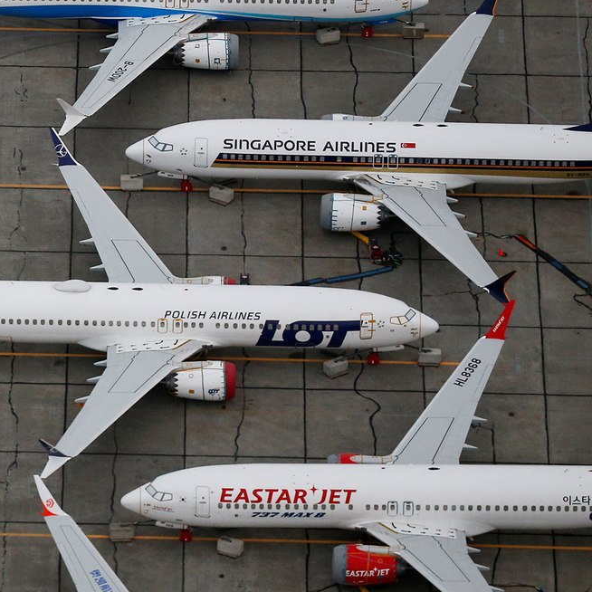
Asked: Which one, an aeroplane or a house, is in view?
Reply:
aeroplane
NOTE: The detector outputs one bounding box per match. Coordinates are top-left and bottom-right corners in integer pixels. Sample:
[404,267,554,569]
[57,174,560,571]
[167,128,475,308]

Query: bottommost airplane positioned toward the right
[120,299,592,592]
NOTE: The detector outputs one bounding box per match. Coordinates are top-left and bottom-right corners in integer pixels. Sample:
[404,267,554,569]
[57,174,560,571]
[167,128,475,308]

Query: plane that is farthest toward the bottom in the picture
[32,474,123,592]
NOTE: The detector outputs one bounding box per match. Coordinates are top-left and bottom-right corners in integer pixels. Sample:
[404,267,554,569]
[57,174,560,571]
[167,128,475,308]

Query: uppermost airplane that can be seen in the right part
[127,0,592,306]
